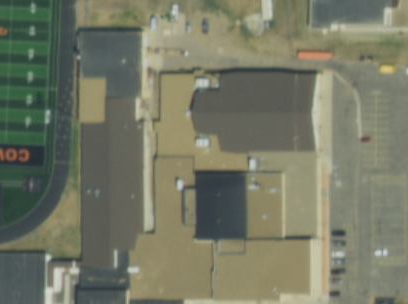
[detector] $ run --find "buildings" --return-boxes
[128,72,324,304]
[310,0,395,28]
[0,252,52,304]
